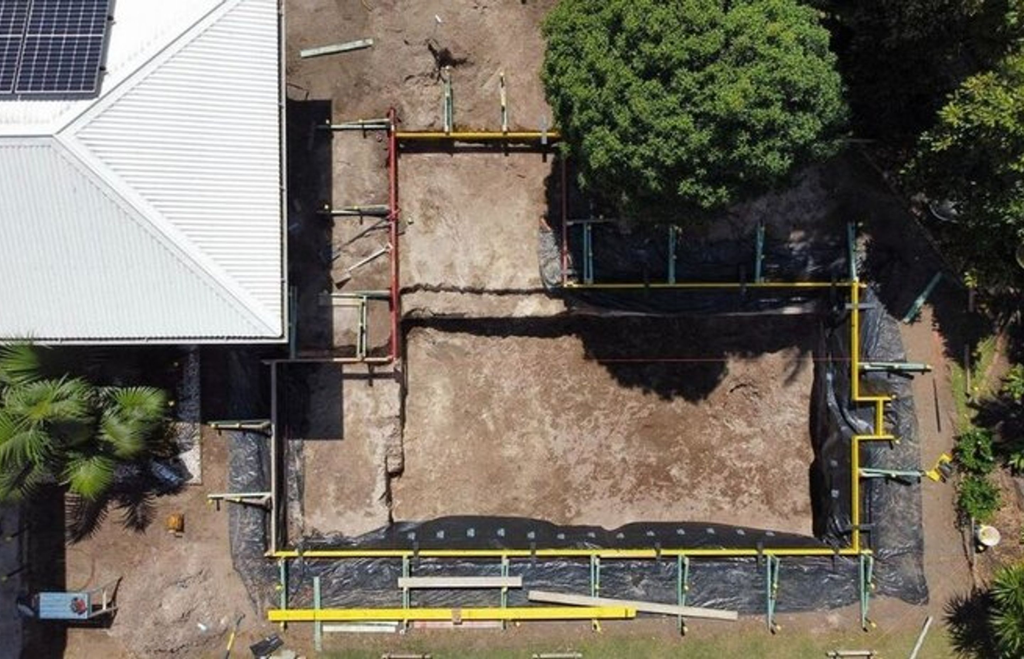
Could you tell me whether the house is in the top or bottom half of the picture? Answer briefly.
top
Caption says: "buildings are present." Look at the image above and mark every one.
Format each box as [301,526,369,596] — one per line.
[0,0,290,361]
